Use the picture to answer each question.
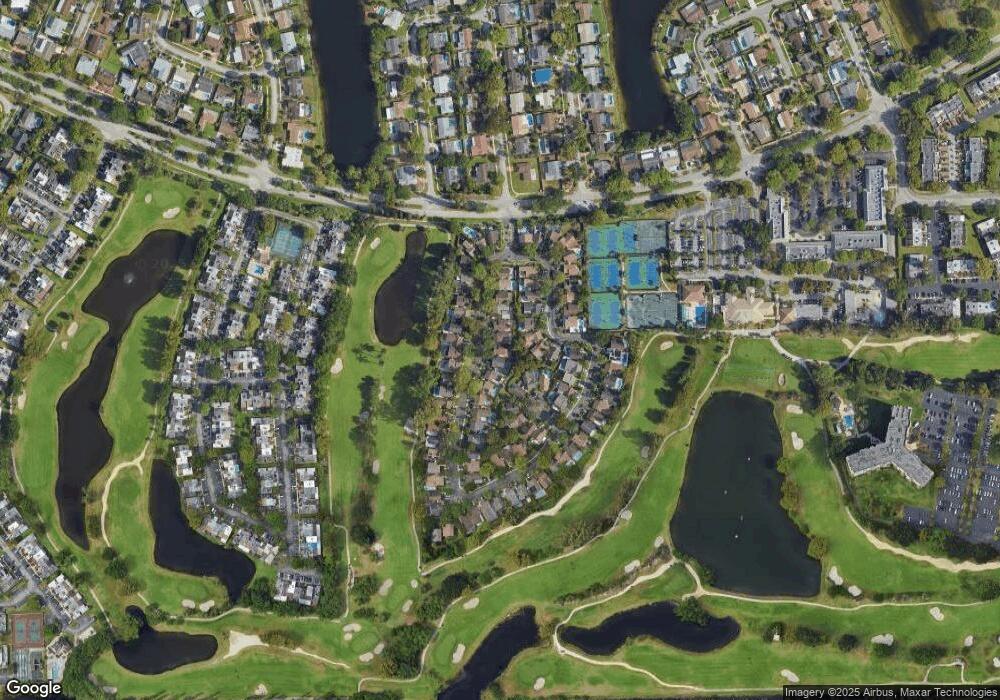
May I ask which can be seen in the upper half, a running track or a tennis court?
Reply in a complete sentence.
Visible in the upper half is a tennis court.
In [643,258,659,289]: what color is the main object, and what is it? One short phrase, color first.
blue tennis court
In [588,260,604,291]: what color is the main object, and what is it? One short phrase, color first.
blue tennis court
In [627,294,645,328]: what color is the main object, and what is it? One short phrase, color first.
gray tennis court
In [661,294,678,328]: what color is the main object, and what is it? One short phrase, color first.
gray tennis court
